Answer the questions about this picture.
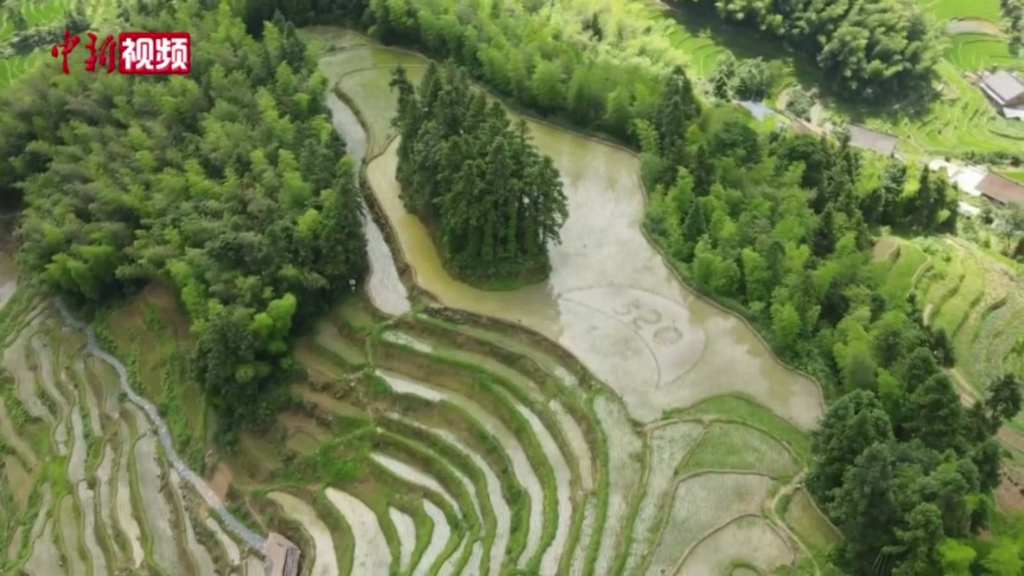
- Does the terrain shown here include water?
Yes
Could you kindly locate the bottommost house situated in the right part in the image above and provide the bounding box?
[977,173,1024,226]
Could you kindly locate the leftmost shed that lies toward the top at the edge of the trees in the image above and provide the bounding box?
[747,100,791,121]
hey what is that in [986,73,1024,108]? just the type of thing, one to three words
house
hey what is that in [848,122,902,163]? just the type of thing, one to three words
house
